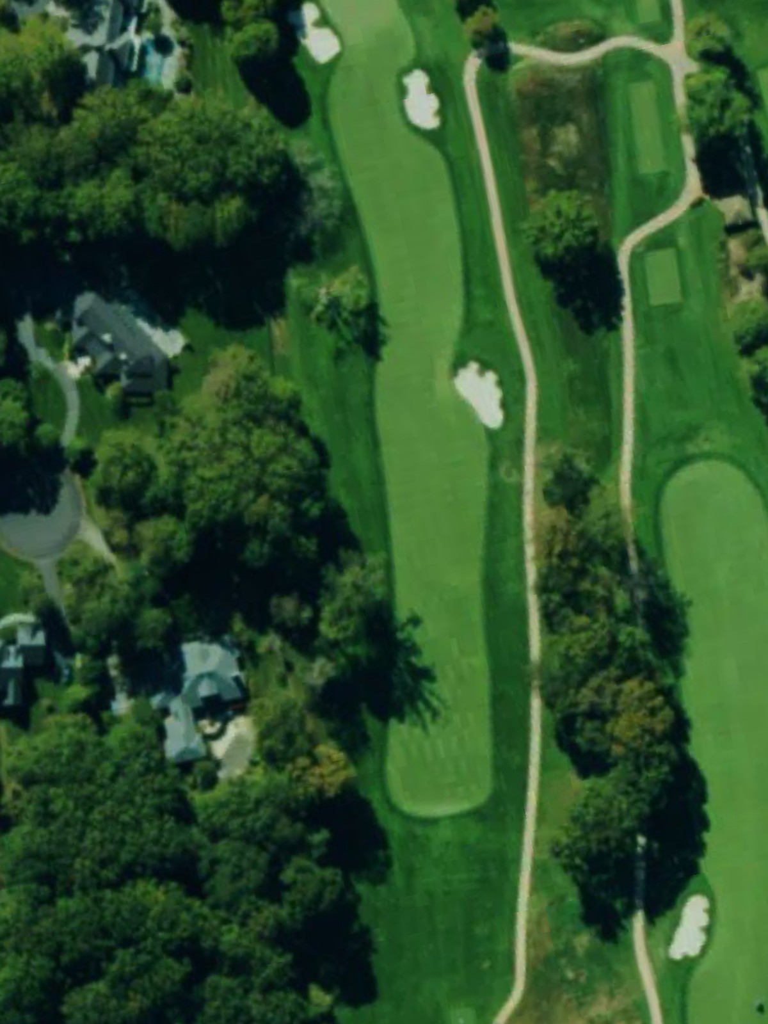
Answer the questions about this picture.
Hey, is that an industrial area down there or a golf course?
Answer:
golf course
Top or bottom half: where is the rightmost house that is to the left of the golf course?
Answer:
bottom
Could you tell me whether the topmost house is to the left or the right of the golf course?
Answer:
to the left of it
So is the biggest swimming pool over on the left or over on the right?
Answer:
left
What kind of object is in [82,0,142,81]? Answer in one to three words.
house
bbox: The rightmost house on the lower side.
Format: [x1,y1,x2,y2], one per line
[146,644,241,761]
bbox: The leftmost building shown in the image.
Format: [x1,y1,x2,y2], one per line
[0,628,44,709]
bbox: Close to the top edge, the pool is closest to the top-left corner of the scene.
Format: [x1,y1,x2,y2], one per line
[142,35,164,81]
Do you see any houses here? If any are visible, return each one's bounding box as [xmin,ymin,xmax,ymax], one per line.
[0,628,44,709]
[63,288,167,393]
[146,644,241,761]
[82,0,142,81]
